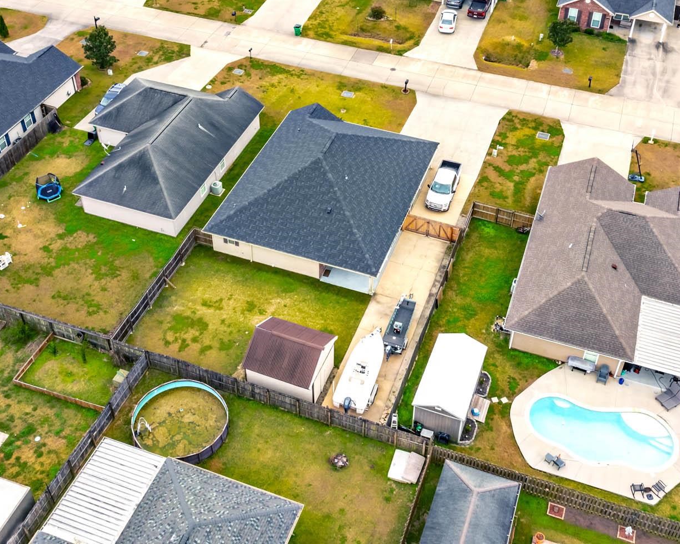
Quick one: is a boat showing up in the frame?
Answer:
Yes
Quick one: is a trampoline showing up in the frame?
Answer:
Yes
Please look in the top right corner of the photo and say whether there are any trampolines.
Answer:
No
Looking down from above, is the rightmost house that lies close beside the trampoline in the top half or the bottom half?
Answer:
top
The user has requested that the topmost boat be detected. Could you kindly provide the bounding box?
[381,289,422,361]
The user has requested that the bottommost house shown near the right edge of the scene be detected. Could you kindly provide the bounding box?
[503,158,680,392]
